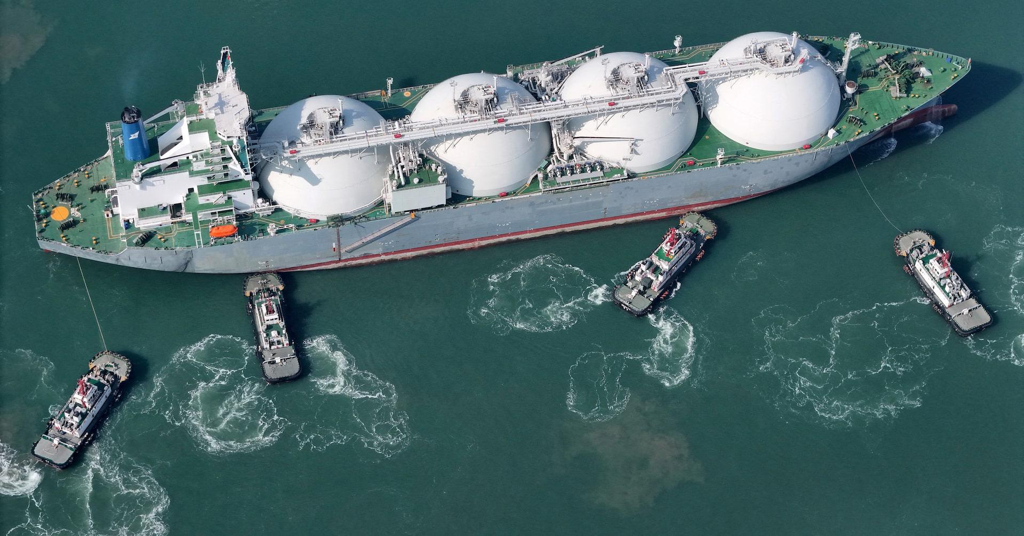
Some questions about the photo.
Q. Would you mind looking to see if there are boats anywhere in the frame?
Yes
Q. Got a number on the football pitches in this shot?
0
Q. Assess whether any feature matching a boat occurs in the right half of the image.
Yes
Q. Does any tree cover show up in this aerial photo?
No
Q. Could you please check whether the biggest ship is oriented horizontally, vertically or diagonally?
horizontally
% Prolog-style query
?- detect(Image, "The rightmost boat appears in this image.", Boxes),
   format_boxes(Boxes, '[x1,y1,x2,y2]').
[895,230,996,338]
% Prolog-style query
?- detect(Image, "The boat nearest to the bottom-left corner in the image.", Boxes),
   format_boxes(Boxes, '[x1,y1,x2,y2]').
[31,351,132,469]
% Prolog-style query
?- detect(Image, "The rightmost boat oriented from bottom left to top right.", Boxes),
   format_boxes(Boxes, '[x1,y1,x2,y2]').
[615,214,716,315]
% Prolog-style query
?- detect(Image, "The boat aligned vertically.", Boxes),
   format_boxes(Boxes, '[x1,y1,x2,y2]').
[242,271,305,387]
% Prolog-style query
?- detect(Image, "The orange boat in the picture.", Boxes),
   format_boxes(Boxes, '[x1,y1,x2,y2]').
[209,225,239,238]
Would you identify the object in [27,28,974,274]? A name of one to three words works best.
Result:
ship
